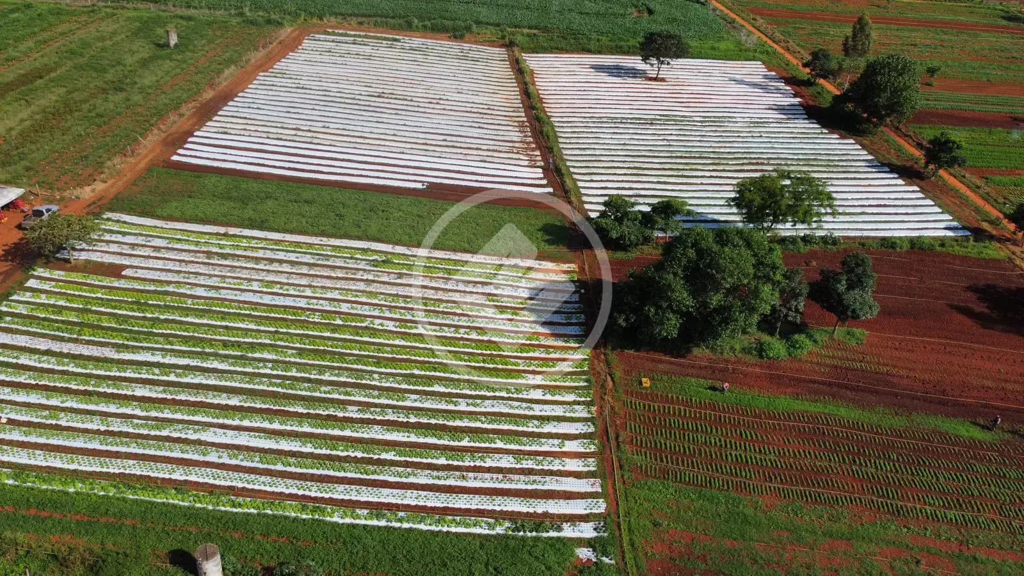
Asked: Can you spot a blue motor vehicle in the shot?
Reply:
No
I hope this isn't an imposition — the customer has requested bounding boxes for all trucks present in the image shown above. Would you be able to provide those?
[21,203,61,228]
